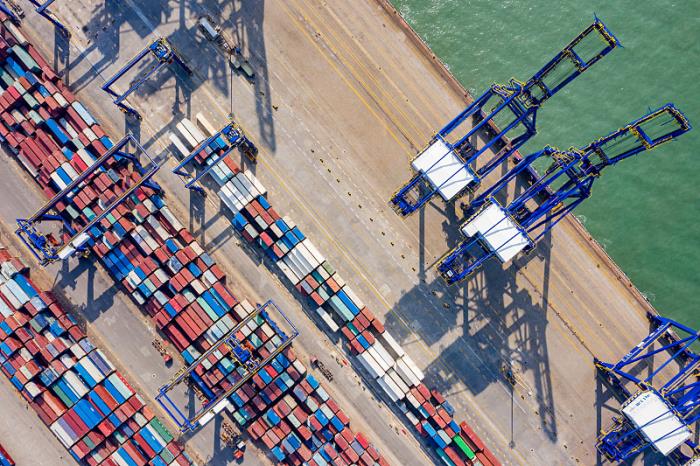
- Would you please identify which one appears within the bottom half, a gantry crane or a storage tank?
gantry crane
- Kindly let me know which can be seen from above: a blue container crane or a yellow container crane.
blue container crane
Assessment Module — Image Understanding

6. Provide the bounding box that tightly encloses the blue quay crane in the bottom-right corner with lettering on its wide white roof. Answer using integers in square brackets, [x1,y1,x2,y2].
[590,308,700,466]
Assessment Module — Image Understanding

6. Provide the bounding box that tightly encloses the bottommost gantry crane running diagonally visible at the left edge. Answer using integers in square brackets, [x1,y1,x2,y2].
[14,133,164,267]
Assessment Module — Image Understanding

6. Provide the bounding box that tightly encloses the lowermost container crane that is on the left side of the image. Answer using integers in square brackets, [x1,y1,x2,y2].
[154,299,300,434]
